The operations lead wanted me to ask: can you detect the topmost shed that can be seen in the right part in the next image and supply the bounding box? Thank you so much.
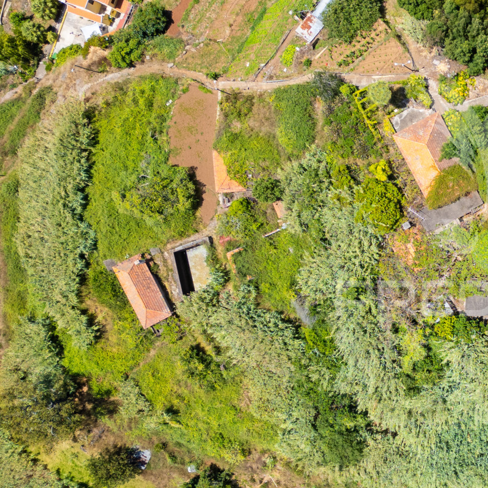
[296,0,339,44]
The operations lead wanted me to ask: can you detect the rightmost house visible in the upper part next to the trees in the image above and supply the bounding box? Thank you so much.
[390,107,483,233]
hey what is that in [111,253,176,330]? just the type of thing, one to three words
shed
